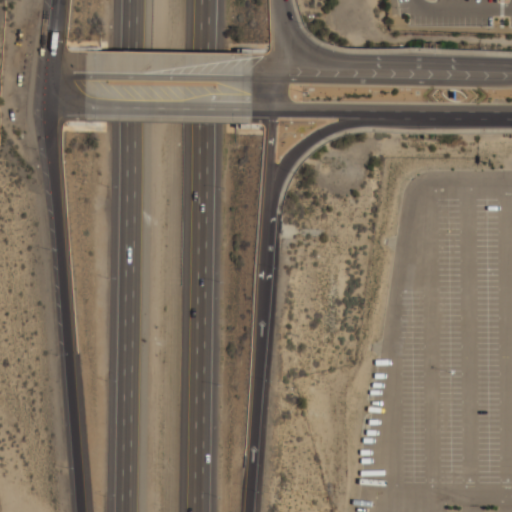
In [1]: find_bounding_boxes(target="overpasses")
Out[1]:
[64,42,268,135]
